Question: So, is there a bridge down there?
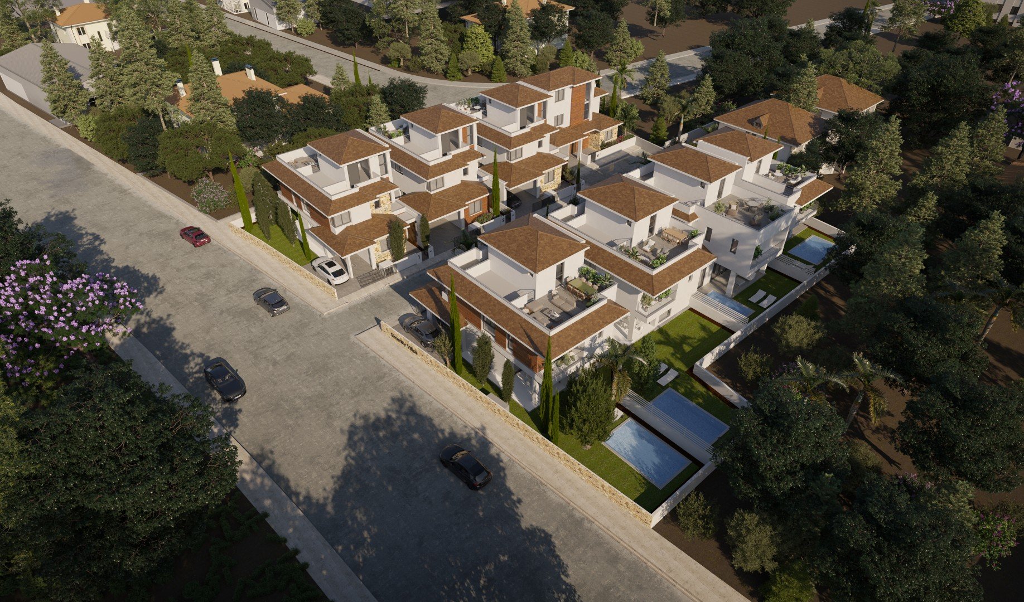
No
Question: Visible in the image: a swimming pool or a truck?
swimming pool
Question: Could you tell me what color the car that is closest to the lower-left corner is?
black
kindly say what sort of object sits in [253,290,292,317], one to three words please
car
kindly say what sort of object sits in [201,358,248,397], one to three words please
car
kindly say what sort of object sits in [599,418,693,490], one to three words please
swimming pool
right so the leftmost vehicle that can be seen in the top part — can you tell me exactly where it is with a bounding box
[180,226,211,247]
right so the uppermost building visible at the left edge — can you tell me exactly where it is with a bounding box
[46,0,119,54]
